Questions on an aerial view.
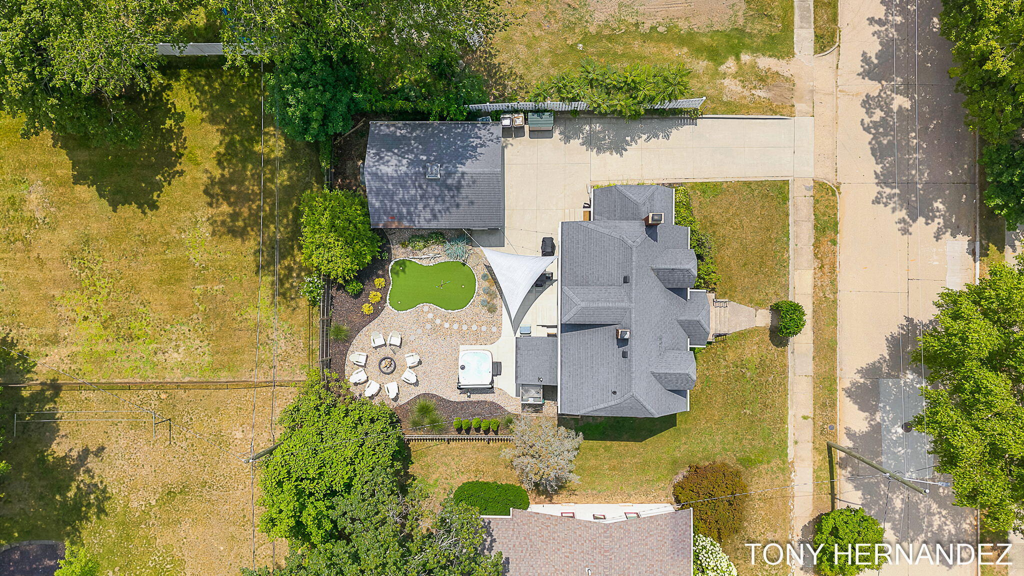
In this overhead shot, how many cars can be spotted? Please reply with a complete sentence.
I count no cars.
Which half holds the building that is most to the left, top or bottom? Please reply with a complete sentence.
It is in the top half that the building that is most to the left appears.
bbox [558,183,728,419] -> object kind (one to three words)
house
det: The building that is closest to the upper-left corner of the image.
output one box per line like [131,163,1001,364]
[364,121,503,230]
